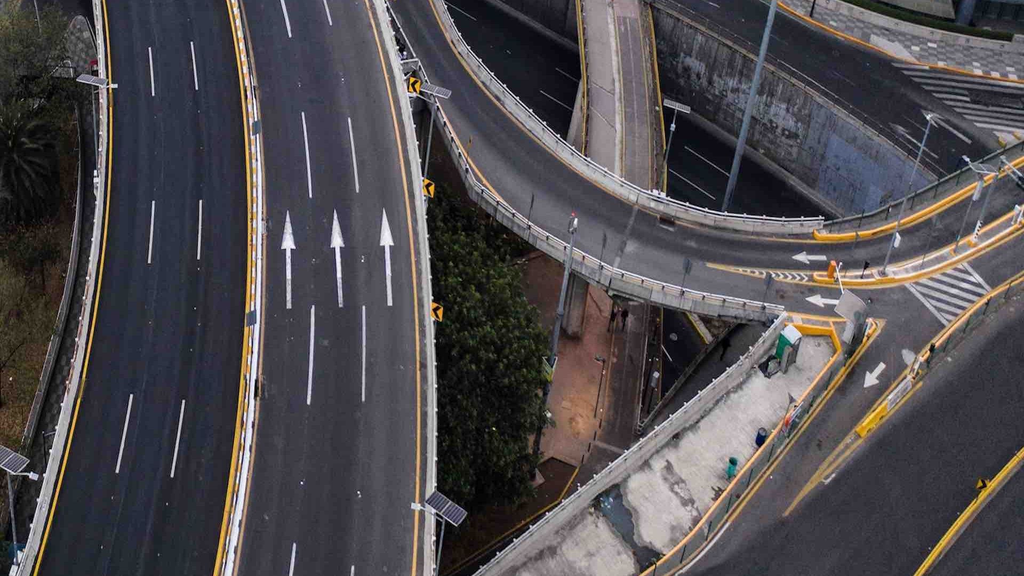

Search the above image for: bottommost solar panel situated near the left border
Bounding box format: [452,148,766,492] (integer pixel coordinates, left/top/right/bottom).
[0,445,29,474]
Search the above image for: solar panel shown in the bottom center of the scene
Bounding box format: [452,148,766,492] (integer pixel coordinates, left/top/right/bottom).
[424,490,468,526]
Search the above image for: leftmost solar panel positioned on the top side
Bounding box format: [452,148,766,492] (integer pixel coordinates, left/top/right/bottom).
[76,73,109,87]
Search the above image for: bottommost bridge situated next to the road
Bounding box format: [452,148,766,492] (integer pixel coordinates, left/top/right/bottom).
[557,254,631,338]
